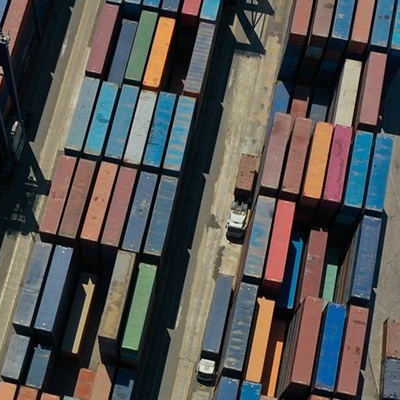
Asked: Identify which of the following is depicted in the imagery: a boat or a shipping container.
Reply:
shipping container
